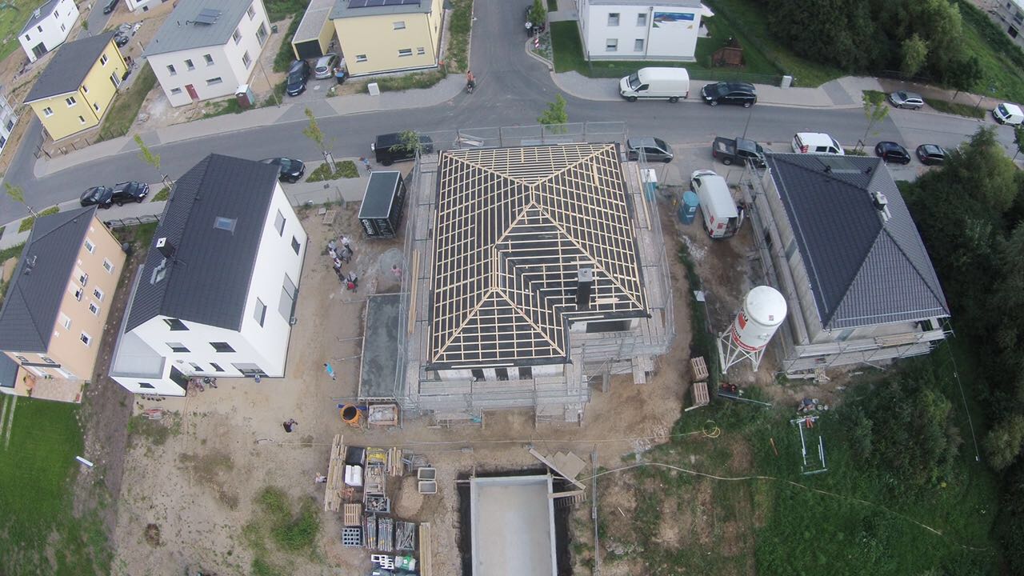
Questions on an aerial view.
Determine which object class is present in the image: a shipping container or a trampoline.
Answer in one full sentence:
Of the two, only a shipping container appears.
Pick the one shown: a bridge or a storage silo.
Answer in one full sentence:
Looking from above, you can make out a storage silo.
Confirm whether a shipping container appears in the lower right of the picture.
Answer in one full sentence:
No, there's no shipping container to be seen in the lower right of the picture.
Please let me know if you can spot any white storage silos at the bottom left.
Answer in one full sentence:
No, at the bottom left there is no white storage silo.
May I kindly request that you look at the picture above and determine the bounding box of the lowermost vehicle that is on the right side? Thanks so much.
[695,172,753,247]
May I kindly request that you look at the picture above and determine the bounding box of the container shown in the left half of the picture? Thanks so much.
[359,171,404,238]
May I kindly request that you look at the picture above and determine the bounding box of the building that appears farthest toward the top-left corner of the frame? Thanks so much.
[10,0,80,63]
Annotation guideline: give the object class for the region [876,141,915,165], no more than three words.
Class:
car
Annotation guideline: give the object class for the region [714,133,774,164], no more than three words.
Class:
truck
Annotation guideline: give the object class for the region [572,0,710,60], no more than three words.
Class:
house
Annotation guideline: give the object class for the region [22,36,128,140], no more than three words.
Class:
house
